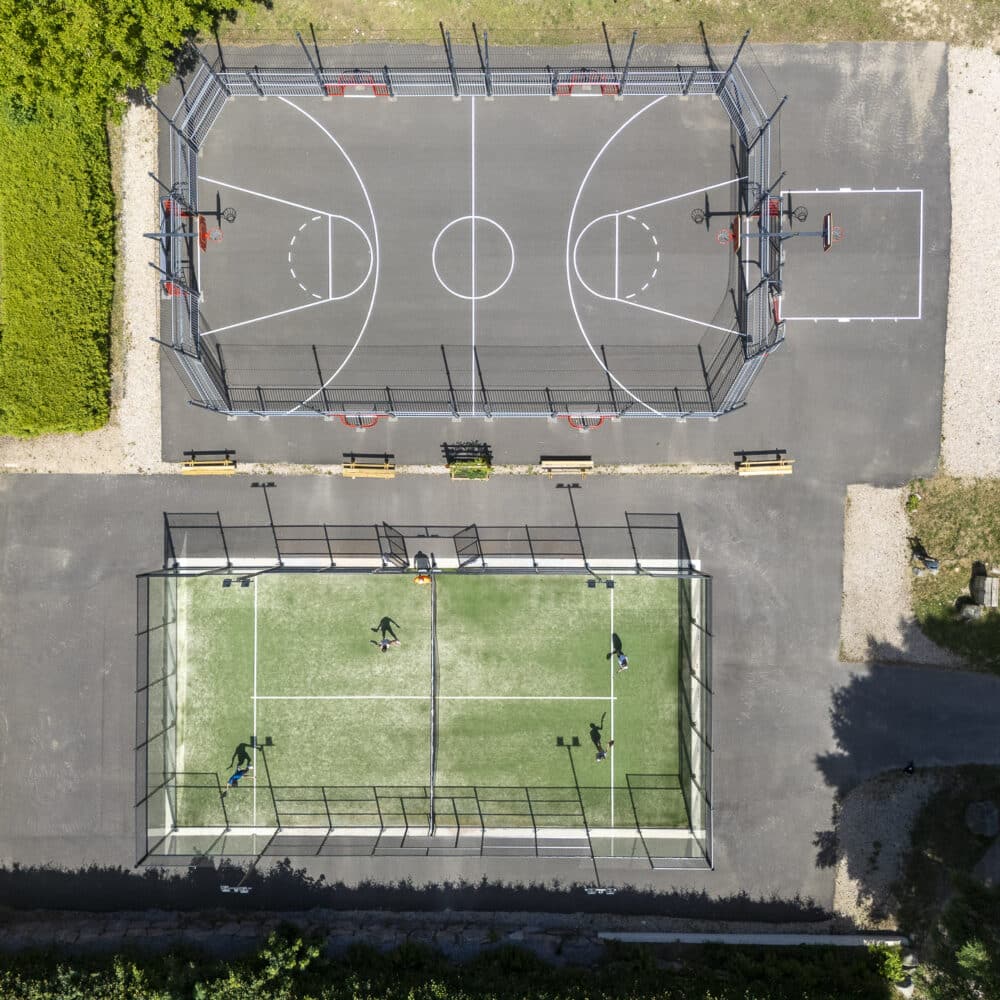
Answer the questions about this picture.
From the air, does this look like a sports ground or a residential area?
sports ground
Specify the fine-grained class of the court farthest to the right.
basketball court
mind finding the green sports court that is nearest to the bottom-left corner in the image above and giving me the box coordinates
[166,559,702,838]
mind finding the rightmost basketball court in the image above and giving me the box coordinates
[781,188,923,323]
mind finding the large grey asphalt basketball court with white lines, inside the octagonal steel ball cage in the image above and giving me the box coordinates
[198,96,748,418]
